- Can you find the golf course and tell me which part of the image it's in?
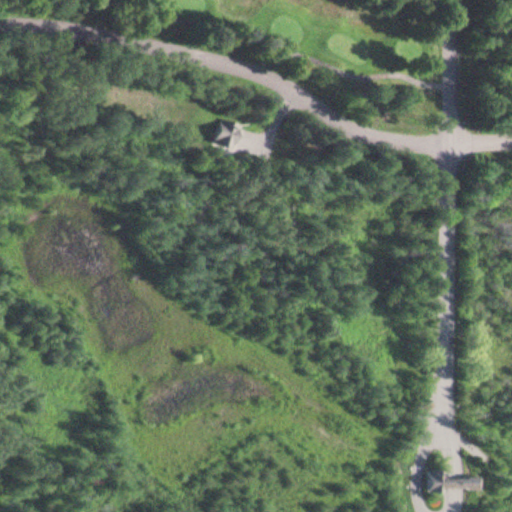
top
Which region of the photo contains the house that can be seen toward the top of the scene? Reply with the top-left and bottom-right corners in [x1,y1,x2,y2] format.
[215,121,234,147]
